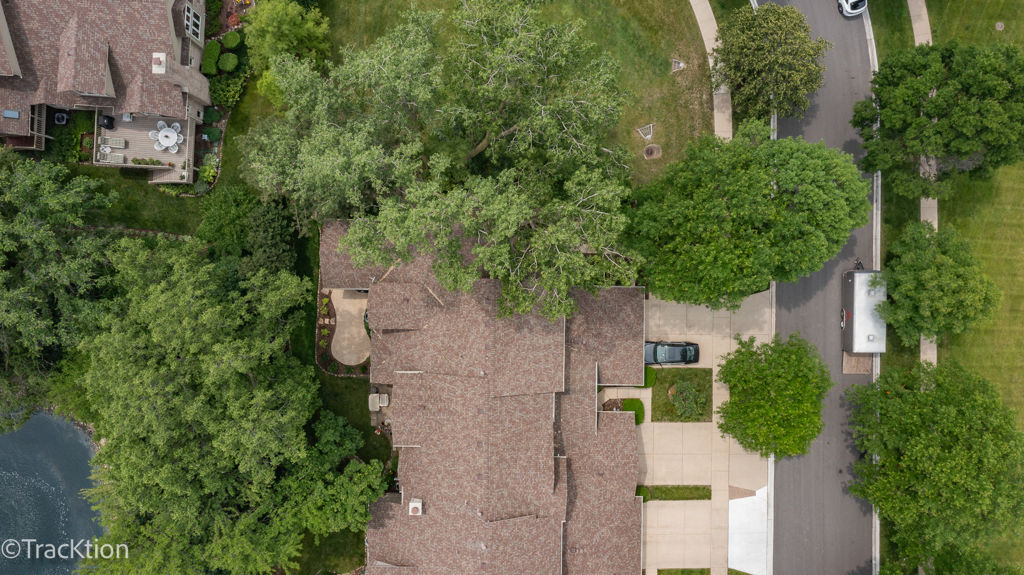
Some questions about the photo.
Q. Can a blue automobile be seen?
No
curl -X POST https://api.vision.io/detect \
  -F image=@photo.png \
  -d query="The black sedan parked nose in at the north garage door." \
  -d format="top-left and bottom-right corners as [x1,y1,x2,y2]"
[646,339,699,368]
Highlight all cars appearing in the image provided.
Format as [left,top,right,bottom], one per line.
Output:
[834,0,867,16]
[646,339,699,368]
